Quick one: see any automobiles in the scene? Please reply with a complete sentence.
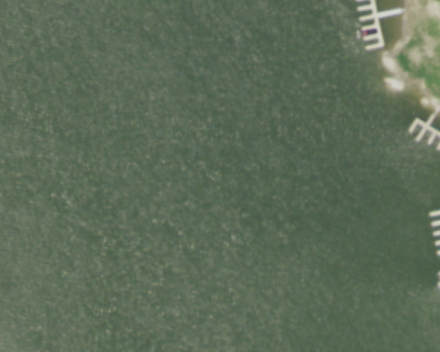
No, there isn't any automobile down there.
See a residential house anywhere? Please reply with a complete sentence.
No, there is no residential house in the image.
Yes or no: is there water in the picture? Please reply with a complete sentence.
Yes, some water is visible.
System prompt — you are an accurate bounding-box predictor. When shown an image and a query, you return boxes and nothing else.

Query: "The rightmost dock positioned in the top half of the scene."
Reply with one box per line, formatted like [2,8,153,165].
[408,107,440,151]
